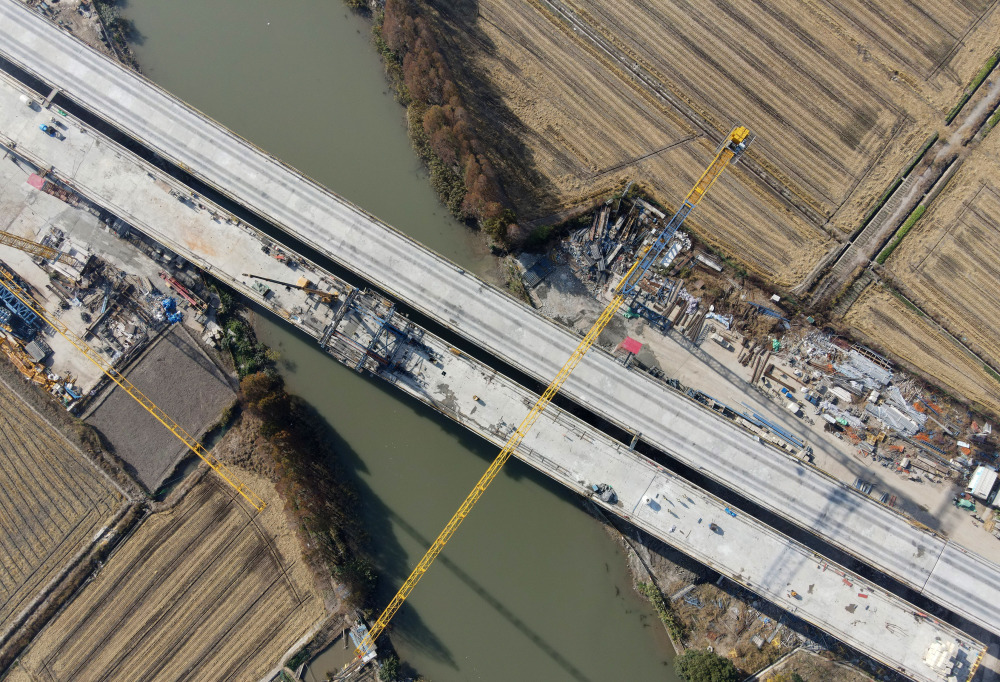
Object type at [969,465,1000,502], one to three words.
shed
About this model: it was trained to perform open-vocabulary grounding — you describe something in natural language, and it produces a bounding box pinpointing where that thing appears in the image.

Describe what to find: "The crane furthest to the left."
[0,230,269,514]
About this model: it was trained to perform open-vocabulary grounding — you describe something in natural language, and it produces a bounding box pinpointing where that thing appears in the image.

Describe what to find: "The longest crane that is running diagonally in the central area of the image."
[356,128,751,651]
